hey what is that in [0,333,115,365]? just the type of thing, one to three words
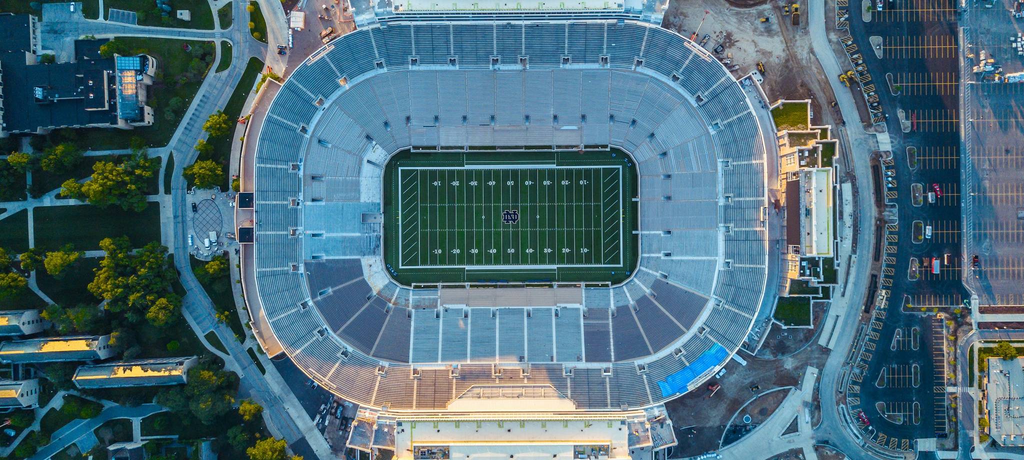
building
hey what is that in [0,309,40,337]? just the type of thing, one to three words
building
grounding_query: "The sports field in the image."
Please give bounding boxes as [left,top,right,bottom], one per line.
[382,145,639,289]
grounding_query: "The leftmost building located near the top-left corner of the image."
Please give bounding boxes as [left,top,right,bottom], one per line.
[0,14,166,135]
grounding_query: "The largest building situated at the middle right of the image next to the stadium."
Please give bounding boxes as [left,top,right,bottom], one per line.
[770,100,840,328]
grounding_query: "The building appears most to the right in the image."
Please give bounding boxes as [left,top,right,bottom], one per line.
[978,356,1024,446]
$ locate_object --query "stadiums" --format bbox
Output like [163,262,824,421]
[232,20,781,412]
